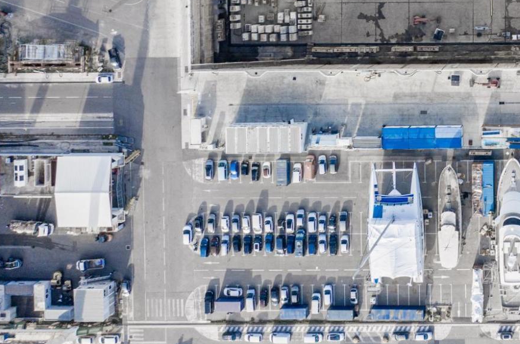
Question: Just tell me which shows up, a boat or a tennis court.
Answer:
boat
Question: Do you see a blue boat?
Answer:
No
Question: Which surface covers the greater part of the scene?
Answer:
paved ground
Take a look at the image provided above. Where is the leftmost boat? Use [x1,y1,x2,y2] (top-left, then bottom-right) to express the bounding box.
[352,162,426,286]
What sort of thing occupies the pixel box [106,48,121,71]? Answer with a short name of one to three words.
vehicle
